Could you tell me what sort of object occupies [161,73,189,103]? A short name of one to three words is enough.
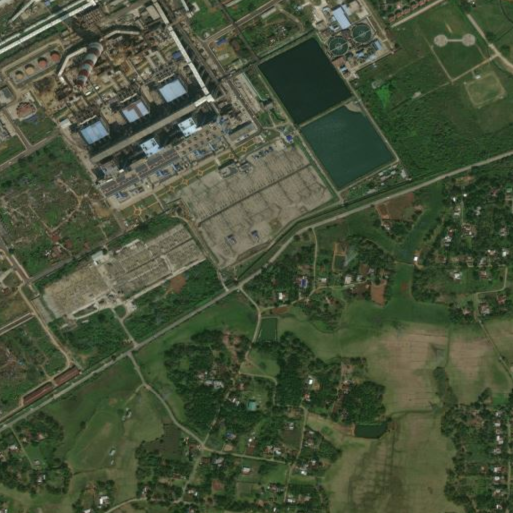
building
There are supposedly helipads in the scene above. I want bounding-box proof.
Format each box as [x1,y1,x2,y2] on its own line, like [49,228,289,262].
[434,34,475,47]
